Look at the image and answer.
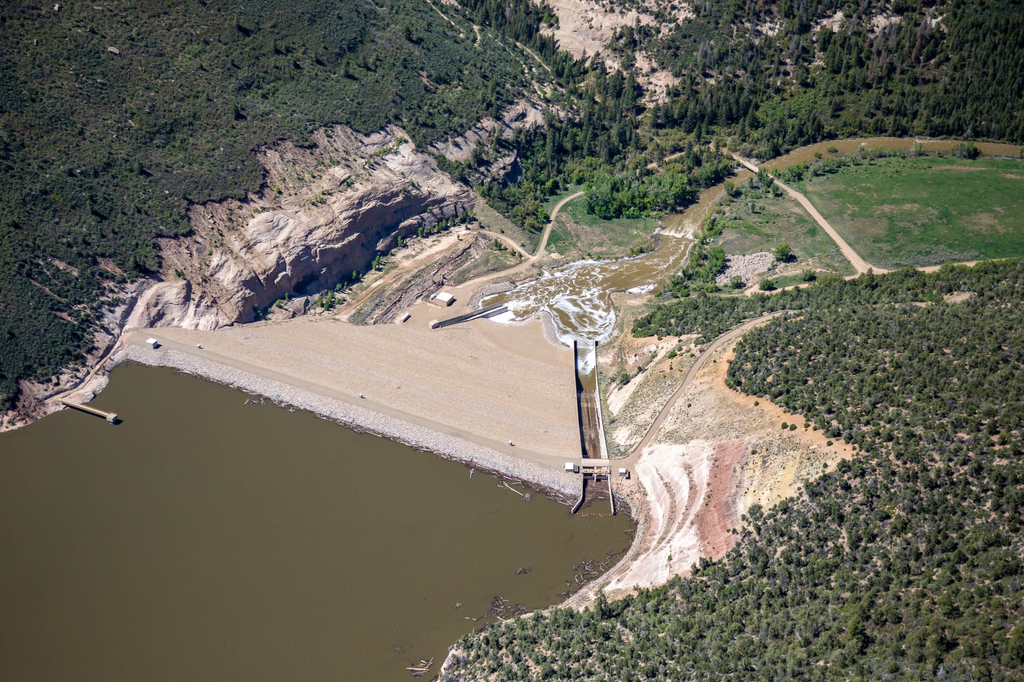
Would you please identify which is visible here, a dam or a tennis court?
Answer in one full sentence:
This aerial view contains a dam.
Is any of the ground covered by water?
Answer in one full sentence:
Yes, there's water in this view.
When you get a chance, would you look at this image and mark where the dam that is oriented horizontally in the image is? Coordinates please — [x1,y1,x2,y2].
[118,317,582,508]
